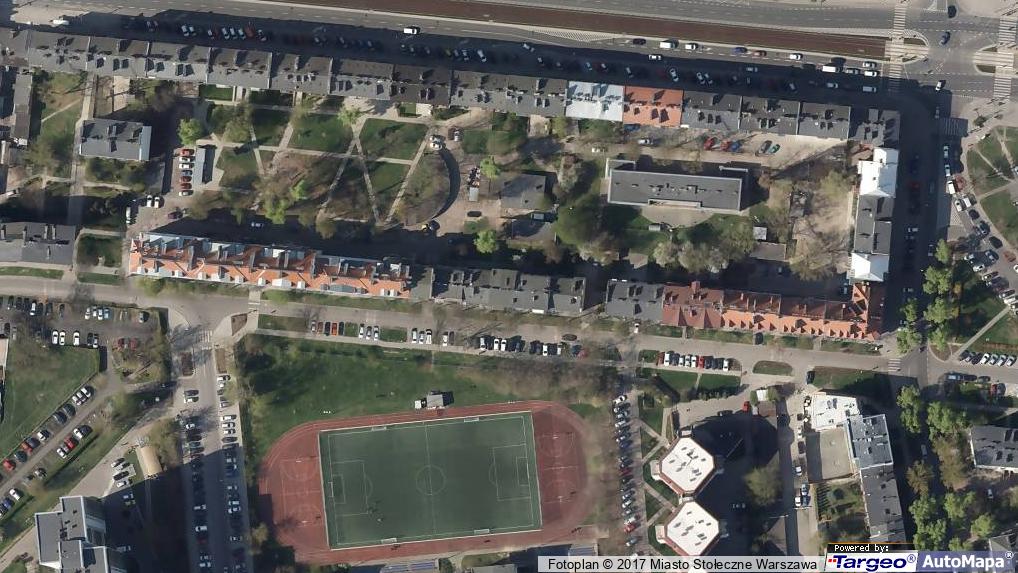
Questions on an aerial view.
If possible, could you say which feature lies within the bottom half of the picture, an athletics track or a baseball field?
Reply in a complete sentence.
Visible within the bottom half of the picture is an athletics track.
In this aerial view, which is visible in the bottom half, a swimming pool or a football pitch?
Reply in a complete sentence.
Looking in the bottom half, you will find a football pitch.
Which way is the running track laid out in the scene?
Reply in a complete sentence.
The running track has been laid out from side to side relative to the frame.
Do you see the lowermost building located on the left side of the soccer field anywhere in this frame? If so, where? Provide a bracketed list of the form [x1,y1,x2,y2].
[36,496,126,573]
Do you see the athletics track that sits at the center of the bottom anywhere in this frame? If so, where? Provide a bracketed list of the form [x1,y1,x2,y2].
[258,401,592,564]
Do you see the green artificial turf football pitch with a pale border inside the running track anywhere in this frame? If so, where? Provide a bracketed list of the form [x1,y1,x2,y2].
[317,411,542,550]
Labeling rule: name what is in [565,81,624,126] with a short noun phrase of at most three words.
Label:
building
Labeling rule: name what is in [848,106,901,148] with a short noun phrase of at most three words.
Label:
building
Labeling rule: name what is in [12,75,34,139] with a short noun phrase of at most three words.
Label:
shed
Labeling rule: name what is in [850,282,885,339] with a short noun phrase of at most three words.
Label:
house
